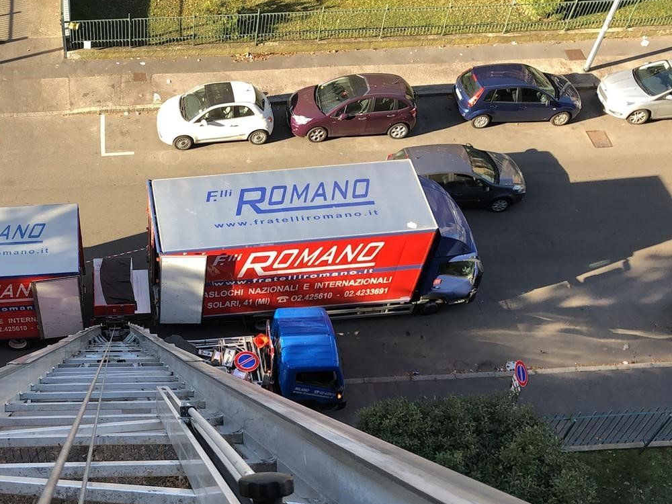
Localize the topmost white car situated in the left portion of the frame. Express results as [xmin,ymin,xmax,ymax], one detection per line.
[155,80,276,150]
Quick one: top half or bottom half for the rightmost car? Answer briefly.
top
